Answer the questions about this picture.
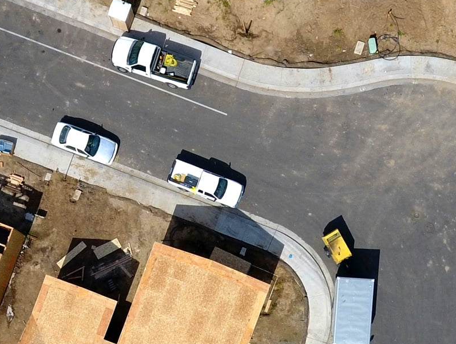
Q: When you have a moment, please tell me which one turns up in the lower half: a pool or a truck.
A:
truck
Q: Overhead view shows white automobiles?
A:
Yes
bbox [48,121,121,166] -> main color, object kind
white car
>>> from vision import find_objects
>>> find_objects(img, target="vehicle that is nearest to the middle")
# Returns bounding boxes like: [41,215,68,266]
[166,157,244,210]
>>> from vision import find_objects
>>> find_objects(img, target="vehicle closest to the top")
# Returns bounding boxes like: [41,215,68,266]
[111,36,198,89]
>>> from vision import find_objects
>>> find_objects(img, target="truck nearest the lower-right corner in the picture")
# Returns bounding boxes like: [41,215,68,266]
[330,276,374,344]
